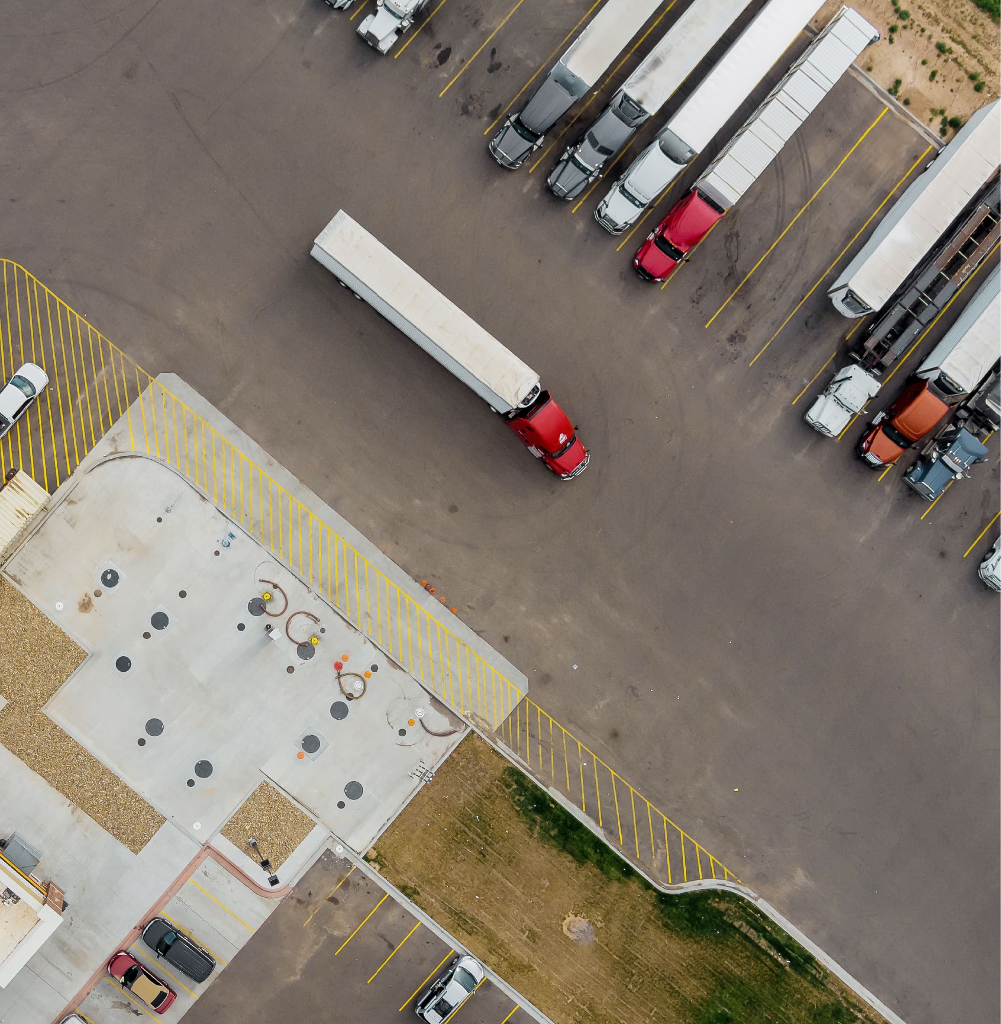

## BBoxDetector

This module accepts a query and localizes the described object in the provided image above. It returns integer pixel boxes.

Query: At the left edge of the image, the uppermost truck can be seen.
[0,364,48,441]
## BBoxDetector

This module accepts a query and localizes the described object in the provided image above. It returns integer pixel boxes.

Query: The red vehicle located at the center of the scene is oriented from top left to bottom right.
[488,392,590,480]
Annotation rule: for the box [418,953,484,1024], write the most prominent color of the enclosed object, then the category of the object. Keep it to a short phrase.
white car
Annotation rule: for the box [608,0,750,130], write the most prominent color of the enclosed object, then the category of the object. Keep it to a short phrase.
white trailer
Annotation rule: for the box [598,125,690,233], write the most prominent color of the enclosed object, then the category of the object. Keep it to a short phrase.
white truck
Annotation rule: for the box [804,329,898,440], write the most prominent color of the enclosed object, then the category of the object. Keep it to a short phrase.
white truck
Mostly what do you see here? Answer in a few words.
paved ground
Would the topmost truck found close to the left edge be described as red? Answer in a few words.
No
